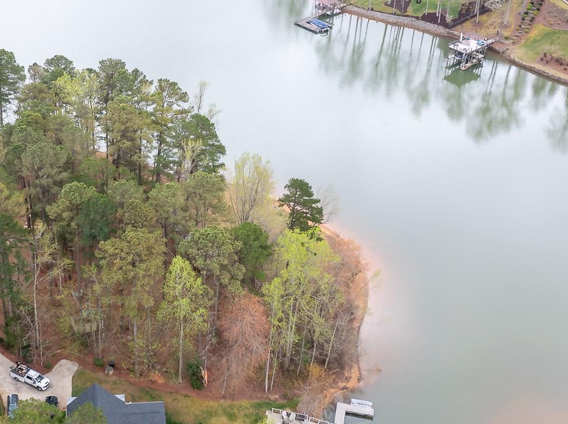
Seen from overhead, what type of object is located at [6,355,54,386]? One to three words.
truck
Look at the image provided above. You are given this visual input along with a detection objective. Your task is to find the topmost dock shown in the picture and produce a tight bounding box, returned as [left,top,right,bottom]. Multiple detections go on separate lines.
[295,0,347,35]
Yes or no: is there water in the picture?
Yes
